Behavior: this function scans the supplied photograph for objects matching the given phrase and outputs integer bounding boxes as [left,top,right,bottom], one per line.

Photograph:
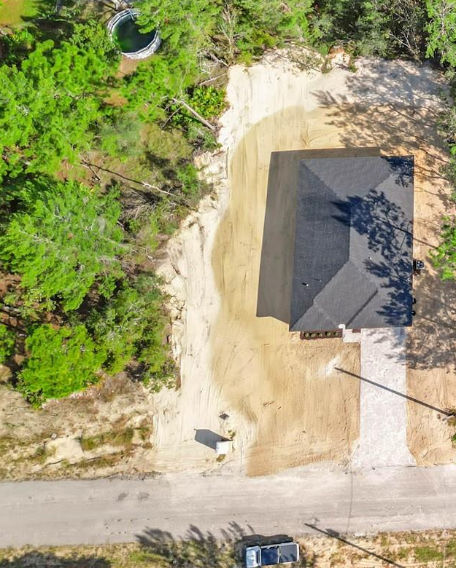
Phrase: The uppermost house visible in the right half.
[291,156,414,331]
